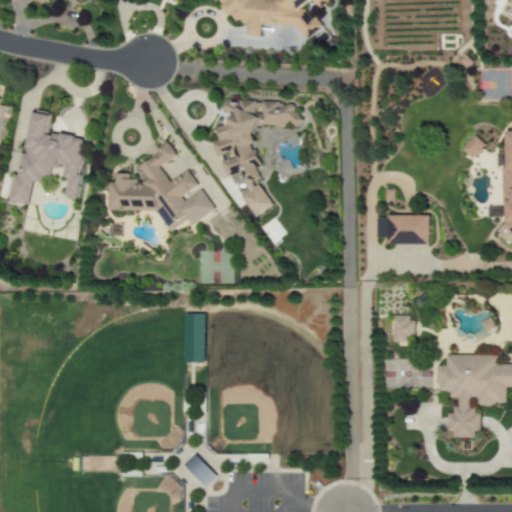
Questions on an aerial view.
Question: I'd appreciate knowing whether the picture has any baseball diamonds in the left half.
Yes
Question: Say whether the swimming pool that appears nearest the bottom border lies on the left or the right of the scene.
right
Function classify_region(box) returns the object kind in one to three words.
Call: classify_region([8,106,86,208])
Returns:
house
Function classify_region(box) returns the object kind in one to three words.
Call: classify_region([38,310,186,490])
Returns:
baseball field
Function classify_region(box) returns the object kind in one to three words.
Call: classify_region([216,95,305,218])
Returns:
house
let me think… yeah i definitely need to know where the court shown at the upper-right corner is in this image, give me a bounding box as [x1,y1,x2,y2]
[481,71,512,100]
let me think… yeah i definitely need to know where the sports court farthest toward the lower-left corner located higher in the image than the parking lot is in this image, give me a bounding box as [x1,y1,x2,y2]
[200,251,234,283]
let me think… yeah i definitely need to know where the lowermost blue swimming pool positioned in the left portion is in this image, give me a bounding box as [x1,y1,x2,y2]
[134,223,158,246]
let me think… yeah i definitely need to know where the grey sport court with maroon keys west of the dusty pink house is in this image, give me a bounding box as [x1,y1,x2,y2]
[386,360,436,388]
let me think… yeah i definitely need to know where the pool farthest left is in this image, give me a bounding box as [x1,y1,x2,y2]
[44,202,68,219]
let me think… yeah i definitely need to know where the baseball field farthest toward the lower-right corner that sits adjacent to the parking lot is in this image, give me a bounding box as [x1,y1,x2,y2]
[207,309,333,454]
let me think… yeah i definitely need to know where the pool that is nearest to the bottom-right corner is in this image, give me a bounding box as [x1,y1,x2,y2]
[455,309,490,340]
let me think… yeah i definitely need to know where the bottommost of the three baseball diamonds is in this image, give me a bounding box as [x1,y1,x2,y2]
[38,476,186,512]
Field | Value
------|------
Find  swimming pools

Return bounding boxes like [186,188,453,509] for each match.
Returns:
[44,202,68,219]
[280,142,302,168]
[474,172,490,203]
[455,309,490,340]
[134,223,158,246]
